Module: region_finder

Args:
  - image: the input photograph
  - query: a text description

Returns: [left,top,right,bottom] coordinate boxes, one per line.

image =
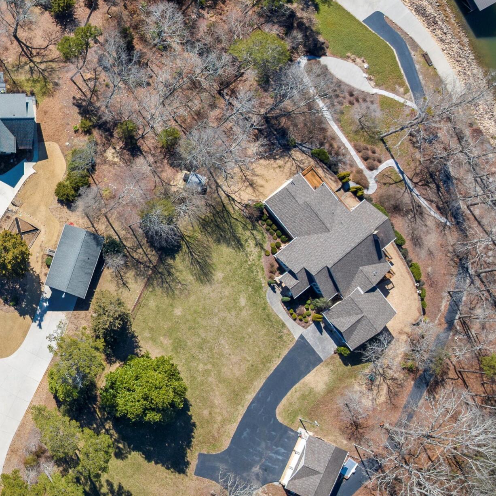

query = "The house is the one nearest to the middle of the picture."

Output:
[263,163,398,350]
